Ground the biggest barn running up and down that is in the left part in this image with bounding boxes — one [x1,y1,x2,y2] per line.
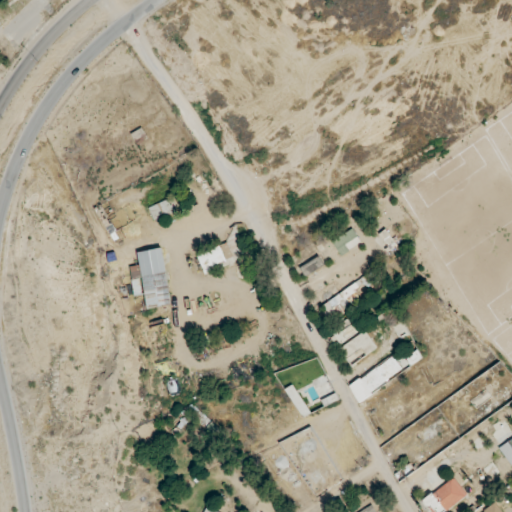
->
[137,247,170,310]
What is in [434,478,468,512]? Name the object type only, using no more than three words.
house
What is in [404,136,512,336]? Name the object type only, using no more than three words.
soccer field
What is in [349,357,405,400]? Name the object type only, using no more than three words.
building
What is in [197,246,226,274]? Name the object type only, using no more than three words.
house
